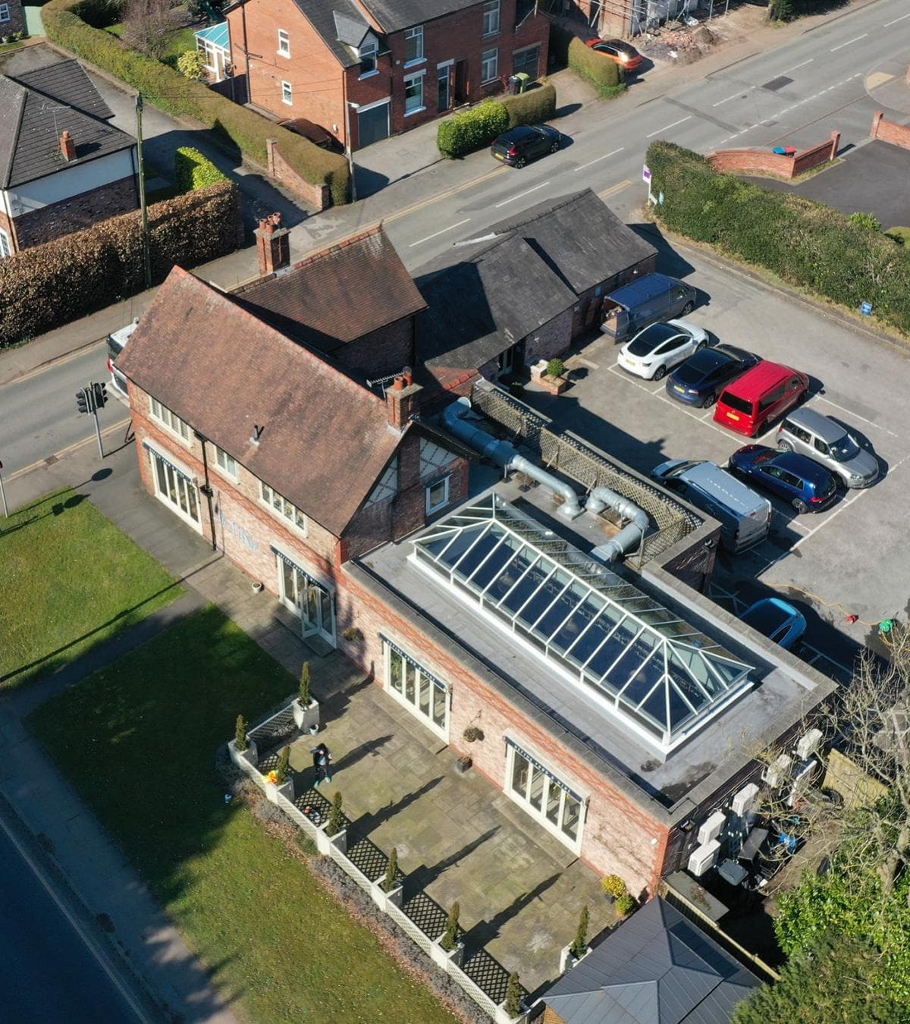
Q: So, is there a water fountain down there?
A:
No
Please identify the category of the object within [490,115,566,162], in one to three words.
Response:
car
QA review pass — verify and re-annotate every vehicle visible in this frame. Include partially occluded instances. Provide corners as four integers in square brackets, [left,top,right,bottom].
[736,594,812,653]
[712,354,817,436]
[615,316,715,383]
[664,340,766,411]
[773,396,890,486]
[725,433,846,511]
[103,326,145,385]
[490,115,566,162]
[587,269,708,349]
[637,450,778,553]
